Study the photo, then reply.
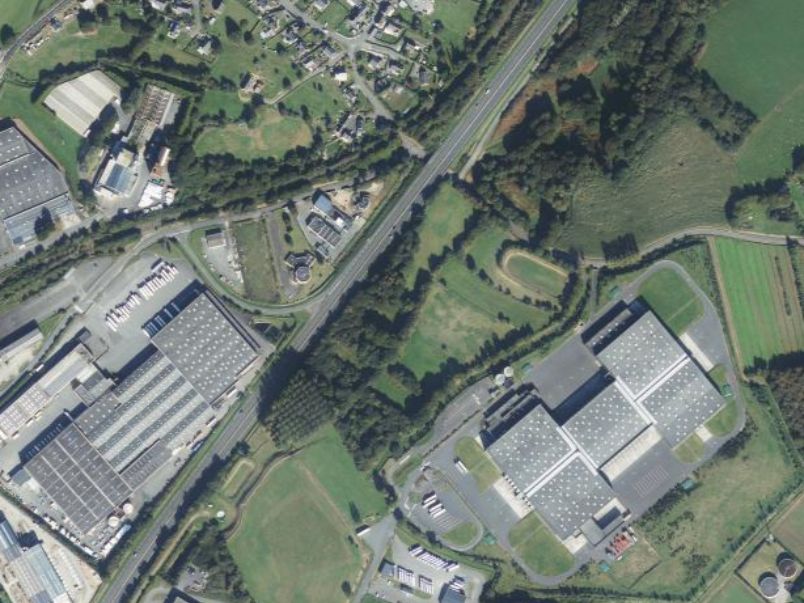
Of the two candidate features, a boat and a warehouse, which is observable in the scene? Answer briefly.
warehouse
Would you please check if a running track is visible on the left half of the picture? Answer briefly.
No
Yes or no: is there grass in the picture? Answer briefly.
Yes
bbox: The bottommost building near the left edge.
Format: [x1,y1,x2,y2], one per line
[11,543,71,603]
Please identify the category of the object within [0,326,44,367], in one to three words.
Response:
shed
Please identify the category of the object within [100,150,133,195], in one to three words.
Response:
building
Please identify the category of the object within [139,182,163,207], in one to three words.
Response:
building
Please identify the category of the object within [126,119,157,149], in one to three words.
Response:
shed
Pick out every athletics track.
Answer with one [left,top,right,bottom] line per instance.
[494,248,573,304]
